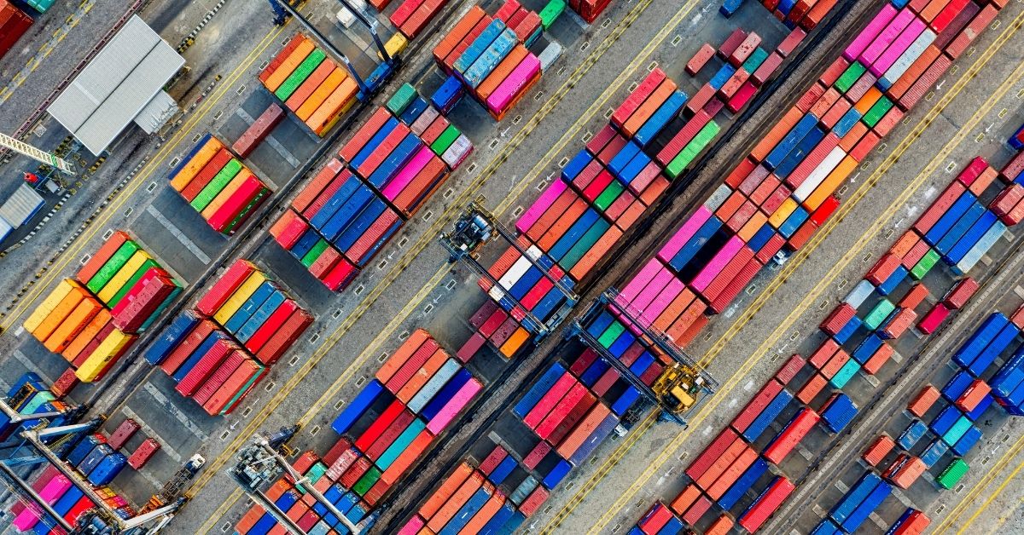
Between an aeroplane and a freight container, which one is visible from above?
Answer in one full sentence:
There is a freight container in the scene.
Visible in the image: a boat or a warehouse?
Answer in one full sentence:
It is a warehouse that can be seen here.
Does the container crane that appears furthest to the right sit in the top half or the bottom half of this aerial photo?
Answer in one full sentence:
Seen from above, the container crane that appears furthest to the right lies in the bottom half of the view.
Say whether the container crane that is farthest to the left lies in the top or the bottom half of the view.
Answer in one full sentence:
Seen from above, the container crane that is farthest to the left lies in the bottom half of the view.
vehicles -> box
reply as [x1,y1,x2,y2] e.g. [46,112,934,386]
[612,396,654,441]
[774,243,795,264]
[127,452,208,535]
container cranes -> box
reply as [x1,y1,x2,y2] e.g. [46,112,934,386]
[269,0,405,104]
[0,419,186,535]
[436,195,583,343]
[219,420,390,535]
[564,284,721,429]
[0,396,88,454]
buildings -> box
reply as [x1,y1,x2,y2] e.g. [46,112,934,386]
[0,182,47,231]
[49,15,195,159]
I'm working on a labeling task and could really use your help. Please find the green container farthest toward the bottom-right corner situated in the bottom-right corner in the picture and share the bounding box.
[934,458,969,490]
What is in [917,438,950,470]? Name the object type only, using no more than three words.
shipping container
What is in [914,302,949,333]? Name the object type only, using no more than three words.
shipping container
